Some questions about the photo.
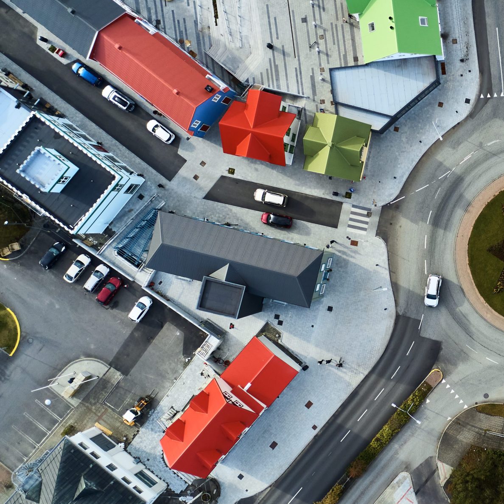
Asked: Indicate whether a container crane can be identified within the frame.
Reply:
No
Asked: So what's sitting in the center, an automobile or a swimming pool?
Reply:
automobile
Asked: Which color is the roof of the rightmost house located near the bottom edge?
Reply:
red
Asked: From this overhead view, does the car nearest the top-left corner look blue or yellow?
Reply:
blue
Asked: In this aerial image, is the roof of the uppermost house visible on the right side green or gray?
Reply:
green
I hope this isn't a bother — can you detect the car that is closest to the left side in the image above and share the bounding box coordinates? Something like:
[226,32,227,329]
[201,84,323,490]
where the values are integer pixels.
[40,242,67,270]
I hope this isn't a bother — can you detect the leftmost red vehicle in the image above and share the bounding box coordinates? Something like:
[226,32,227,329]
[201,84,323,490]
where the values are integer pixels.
[97,278,122,306]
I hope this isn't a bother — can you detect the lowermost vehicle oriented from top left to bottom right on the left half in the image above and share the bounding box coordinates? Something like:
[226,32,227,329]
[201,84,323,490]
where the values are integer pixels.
[147,120,176,143]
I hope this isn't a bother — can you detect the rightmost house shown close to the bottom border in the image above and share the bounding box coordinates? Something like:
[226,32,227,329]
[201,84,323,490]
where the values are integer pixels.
[160,336,300,494]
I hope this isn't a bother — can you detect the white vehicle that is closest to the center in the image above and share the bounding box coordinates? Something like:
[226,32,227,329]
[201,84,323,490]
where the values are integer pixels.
[256,190,286,207]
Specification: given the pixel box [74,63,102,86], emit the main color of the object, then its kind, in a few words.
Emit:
blue car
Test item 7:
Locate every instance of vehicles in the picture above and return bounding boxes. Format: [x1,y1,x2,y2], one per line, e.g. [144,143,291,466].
[147,120,176,143]
[65,255,90,282]
[425,275,440,306]
[122,393,158,424]
[97,278,122,306]
[128,297,153,324]
[40,242,67,270]
[84,265,109,293]
[256,190,286,207]
[263,212,292,227]
[74,63,102,86]
[104,87,135,110]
